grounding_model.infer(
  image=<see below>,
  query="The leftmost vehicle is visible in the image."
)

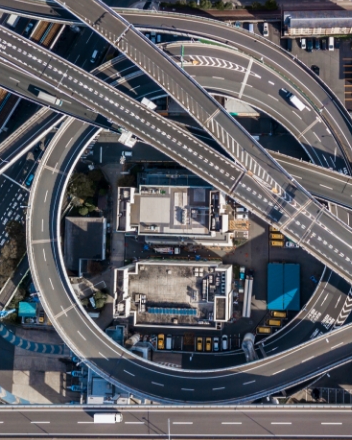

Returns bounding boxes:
[5,14,20,30]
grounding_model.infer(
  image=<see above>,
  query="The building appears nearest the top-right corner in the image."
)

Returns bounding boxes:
[283,9,352,38]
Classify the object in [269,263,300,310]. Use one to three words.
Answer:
shed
